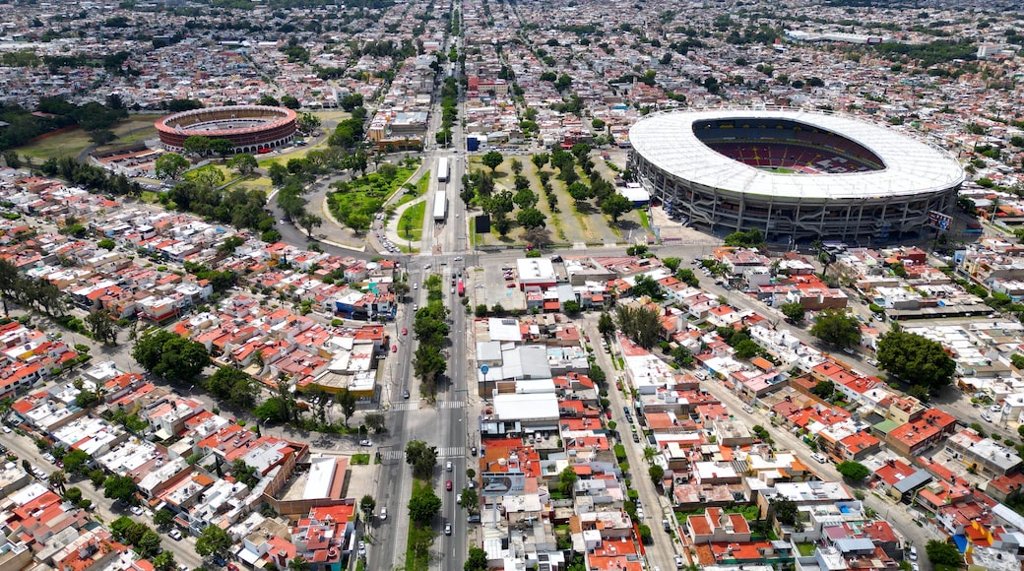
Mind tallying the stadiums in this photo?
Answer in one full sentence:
Just 1 stadium appears in this view.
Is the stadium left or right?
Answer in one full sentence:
It is on the right.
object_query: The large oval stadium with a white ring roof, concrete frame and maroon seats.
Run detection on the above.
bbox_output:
[628,105,965,247]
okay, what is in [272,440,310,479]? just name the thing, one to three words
house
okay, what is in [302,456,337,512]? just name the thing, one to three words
building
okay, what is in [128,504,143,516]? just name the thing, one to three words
vehicle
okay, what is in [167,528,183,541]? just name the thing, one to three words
vehicle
